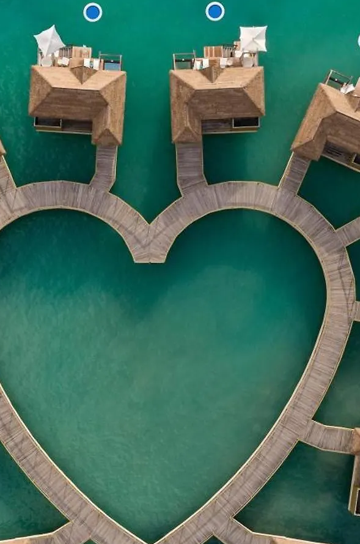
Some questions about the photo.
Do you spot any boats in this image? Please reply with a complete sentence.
No, this view has no boat in it.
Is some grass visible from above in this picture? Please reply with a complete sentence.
No, the picture contains no grass.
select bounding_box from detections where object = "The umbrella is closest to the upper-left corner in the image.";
[33,25,65,56]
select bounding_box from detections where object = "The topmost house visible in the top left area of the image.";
[29,41,126,145]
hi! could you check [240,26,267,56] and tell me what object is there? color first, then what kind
white umbrella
